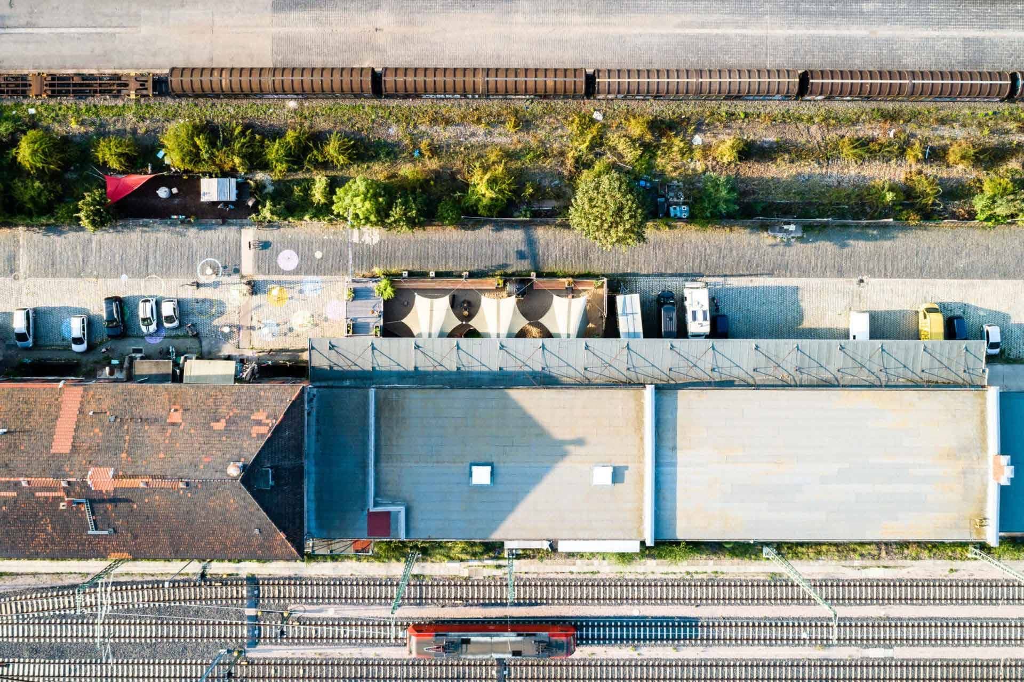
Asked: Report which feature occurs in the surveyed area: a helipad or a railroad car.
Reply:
railroad car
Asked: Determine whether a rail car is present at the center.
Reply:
No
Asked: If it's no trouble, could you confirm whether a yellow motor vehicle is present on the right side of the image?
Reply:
Yes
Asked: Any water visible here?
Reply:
No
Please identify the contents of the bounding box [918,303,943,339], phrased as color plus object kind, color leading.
yellow vehicle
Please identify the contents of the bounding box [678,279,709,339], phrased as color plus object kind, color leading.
white camper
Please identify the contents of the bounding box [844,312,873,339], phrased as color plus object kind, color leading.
white vehicle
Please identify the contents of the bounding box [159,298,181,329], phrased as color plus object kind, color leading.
white car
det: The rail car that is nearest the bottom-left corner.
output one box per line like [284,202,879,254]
[406,623,580,660]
